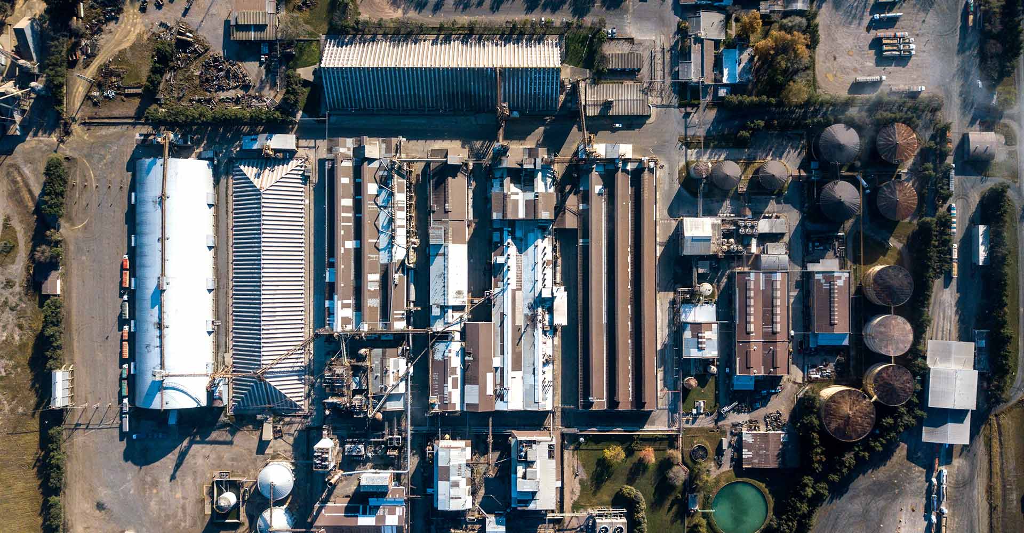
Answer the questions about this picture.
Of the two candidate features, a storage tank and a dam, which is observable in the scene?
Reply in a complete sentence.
I can see a storage tank in this picture.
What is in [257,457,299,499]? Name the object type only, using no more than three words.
storage tank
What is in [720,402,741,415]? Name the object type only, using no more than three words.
vehicle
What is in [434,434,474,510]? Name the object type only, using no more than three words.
building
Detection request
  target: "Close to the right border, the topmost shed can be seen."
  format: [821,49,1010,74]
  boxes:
[960,133,997,162]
